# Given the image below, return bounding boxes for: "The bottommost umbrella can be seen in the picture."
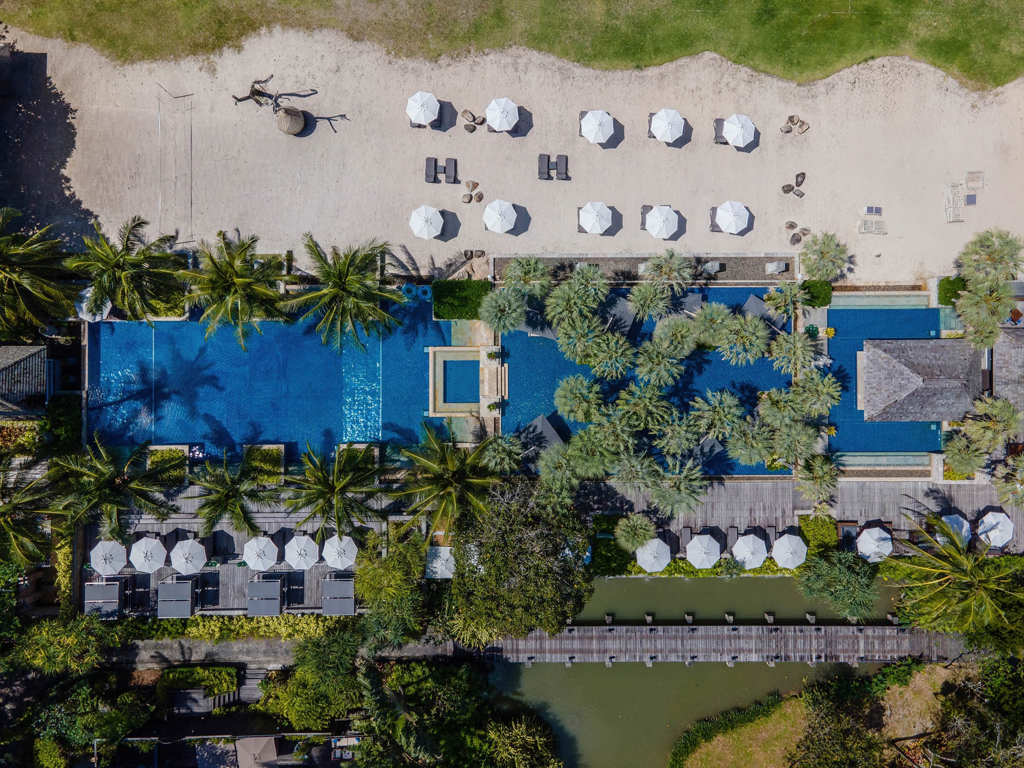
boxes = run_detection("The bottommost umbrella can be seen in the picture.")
[235,734,280,768]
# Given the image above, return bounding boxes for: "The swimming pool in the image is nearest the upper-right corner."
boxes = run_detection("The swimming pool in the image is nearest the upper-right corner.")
[828,281,968,482]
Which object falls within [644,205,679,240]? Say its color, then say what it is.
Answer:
white umbrella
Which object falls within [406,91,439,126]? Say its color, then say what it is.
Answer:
white umbrella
